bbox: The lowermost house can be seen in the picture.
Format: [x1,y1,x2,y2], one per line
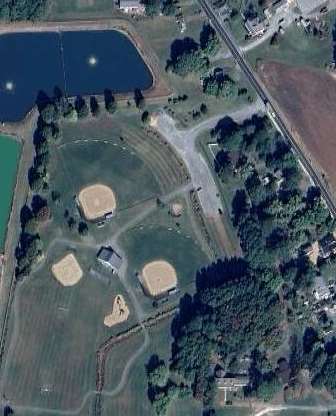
[215,377,248,391]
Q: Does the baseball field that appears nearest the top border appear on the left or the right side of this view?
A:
left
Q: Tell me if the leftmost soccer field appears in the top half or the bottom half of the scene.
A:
bottom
